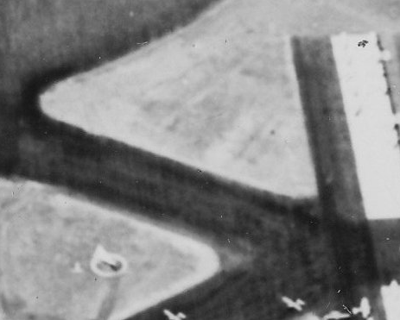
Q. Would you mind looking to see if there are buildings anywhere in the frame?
No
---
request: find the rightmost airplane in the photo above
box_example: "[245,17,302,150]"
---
[349,298,371,319]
